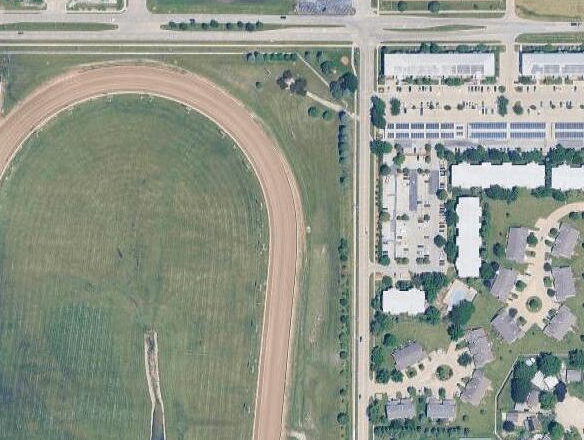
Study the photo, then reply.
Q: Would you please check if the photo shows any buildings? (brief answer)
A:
Yes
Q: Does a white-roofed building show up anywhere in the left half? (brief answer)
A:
No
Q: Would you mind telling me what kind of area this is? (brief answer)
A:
sports ground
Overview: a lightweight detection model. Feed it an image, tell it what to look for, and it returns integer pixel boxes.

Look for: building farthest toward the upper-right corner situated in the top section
[521,53,584,76]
